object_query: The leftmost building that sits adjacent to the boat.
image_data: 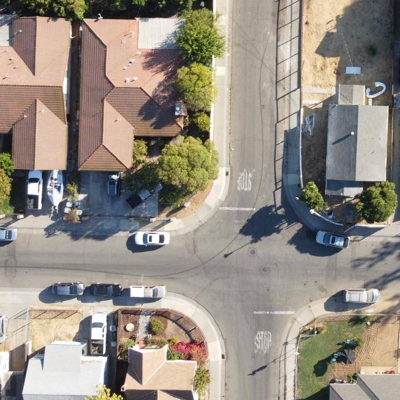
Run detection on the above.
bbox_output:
[0,15,75,170]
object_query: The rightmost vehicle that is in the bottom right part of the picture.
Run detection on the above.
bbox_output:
[342,288,380,305]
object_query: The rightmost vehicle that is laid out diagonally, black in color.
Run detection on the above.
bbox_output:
[124,179,161,213]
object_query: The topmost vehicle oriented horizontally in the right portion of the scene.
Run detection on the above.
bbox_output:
[315,230,351,249]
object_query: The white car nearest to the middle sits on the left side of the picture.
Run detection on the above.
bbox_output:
[135,230,171,247]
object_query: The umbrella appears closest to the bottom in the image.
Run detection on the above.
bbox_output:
[341,348,356,363]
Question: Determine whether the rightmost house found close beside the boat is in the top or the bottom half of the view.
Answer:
top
